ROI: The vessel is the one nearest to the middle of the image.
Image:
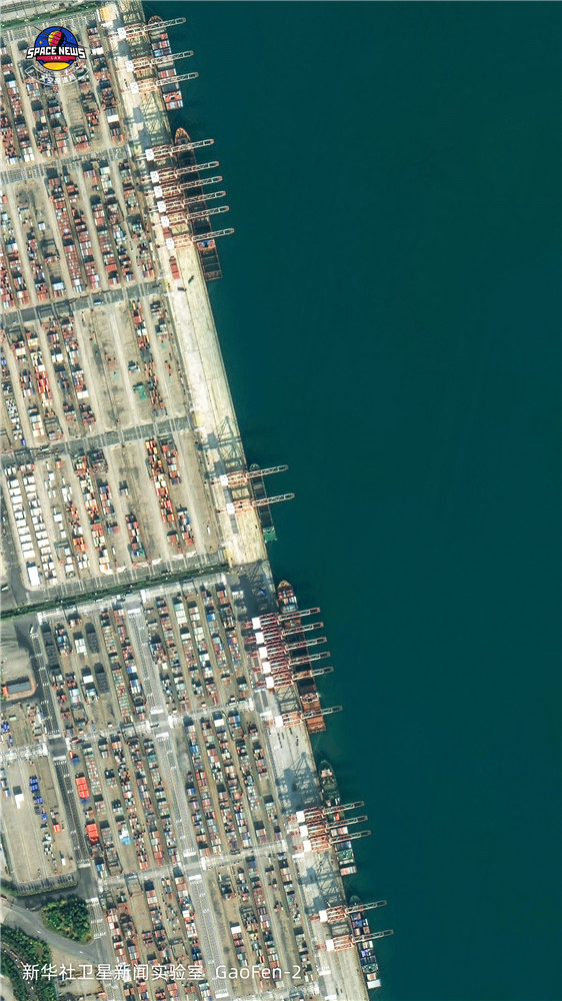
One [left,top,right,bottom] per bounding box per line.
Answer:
[251,464,279,543]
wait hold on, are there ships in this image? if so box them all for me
[150,16,185,110]
[278,581,325,733]
[320,761,357,875]
[176,128,223,281]
[251,464,279,543]
[350,896,382,987]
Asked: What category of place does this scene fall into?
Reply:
port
